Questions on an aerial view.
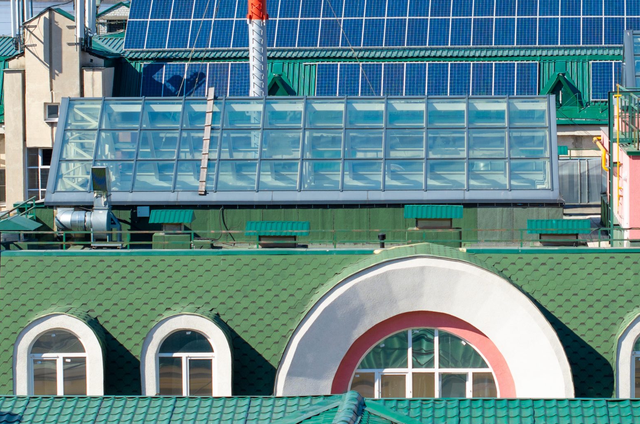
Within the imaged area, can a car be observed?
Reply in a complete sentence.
No, no car can be seen from above.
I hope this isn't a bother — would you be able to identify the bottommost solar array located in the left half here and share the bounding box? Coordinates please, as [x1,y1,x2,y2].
[139,64,248,98]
